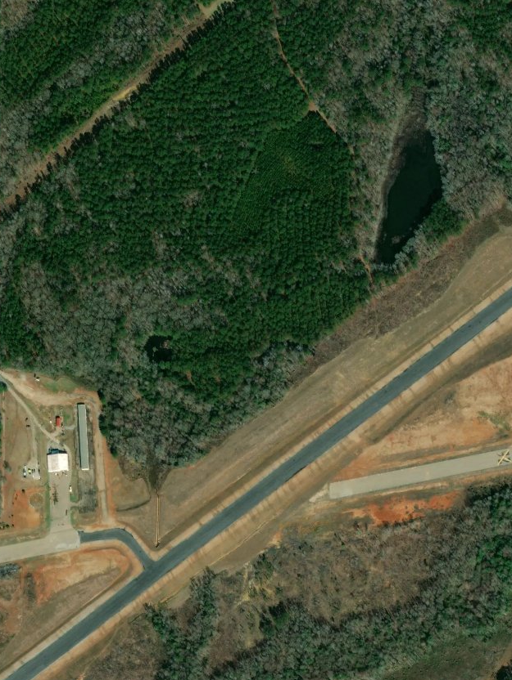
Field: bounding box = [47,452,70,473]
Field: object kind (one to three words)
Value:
hangar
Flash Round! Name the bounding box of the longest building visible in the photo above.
[78,404,90,470]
